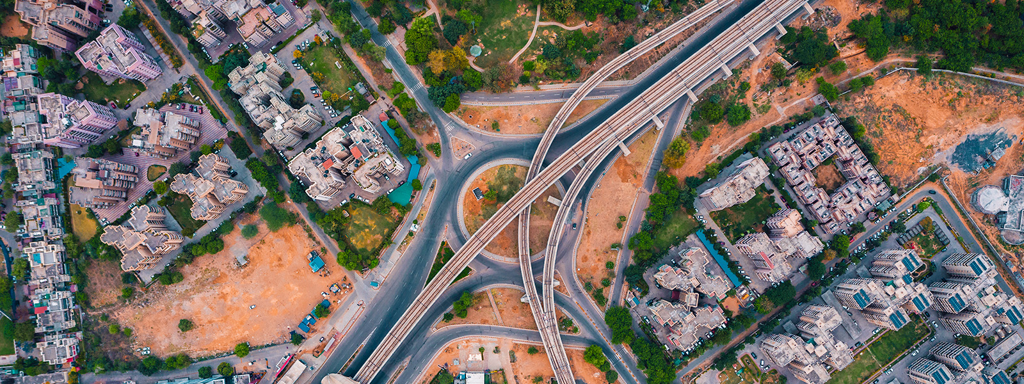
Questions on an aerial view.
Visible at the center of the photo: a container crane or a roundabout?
roundabout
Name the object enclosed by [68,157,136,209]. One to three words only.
building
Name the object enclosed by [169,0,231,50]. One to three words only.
building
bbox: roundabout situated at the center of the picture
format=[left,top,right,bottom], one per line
[438,139,586,284]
